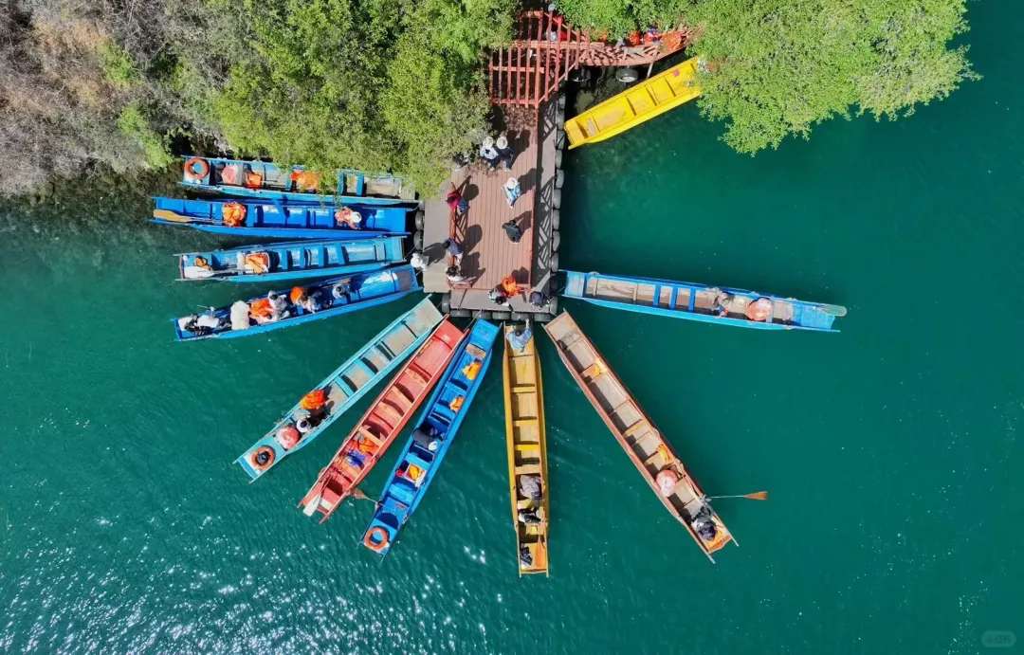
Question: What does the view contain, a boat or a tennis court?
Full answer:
It is a boat that can be seen here.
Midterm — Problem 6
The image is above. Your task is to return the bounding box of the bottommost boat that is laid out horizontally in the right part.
[559,269,837,331]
